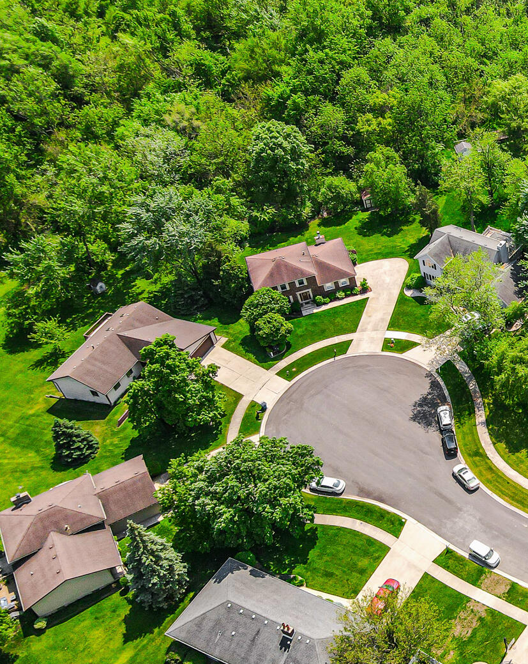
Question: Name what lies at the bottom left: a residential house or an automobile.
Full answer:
Visible at the bottom left is a residential house.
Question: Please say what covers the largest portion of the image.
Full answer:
Most of the picture is covered by trees.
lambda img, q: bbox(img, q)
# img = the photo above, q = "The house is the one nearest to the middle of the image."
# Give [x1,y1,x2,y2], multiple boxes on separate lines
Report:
[245,231,353,312]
